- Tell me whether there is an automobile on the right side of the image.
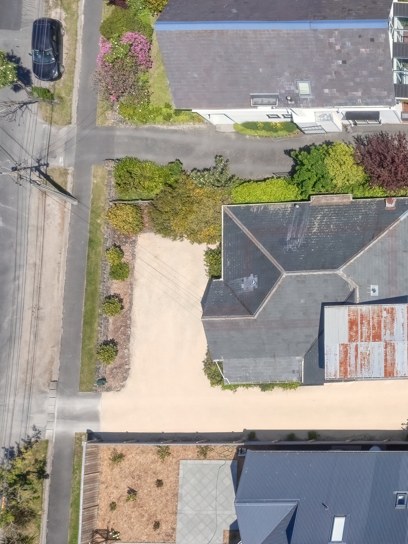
No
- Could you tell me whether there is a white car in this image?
No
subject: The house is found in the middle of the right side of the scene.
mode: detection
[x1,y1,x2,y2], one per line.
[202,193,408,384]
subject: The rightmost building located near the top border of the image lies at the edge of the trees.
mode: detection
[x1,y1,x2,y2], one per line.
[154,0,408,132]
